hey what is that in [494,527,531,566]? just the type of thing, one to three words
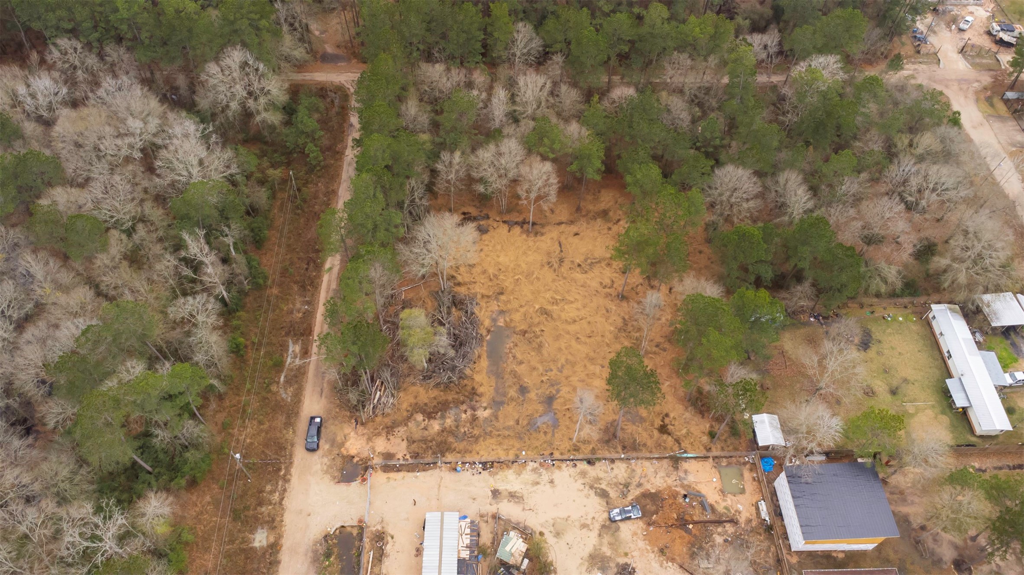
shed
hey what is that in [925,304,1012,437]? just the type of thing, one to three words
house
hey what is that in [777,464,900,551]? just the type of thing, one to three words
house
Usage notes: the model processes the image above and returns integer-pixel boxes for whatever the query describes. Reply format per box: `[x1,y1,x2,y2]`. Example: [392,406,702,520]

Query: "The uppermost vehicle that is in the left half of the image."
[304,416,322,453]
